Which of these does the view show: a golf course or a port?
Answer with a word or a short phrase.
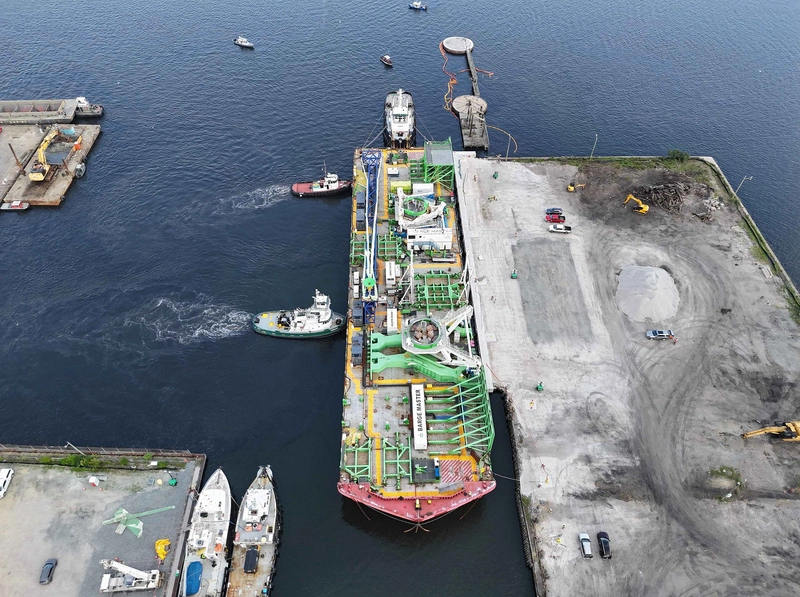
port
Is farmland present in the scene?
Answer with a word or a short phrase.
No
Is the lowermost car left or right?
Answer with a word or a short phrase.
left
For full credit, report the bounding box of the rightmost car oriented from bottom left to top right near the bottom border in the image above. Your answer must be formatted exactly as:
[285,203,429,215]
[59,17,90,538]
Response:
[34,559,58,588]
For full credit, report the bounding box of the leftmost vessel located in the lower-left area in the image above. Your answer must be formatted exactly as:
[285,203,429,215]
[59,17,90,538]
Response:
[170,467,232,597]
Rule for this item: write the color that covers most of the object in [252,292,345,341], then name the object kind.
white boat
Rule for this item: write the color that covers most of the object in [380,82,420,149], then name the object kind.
white boat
